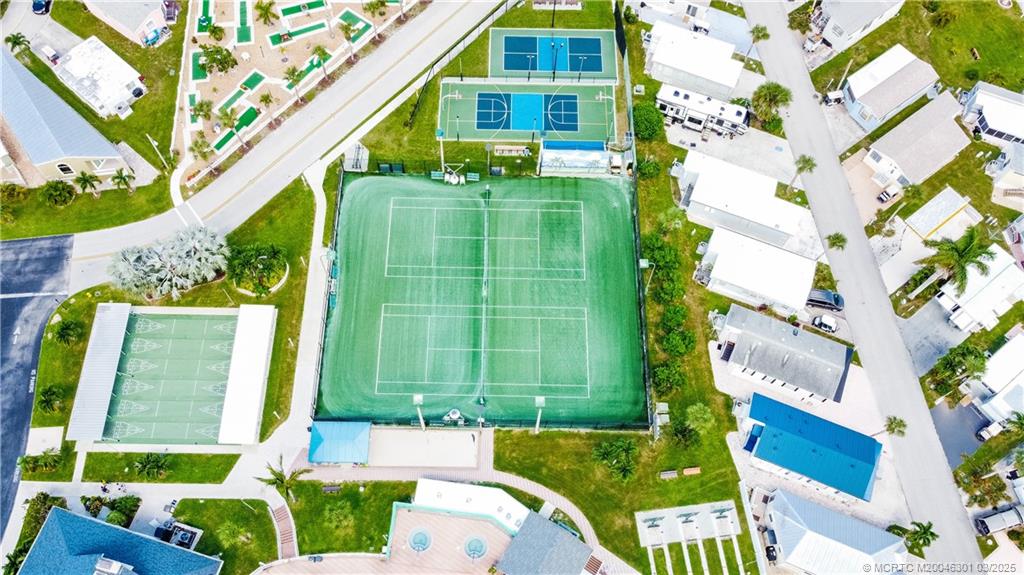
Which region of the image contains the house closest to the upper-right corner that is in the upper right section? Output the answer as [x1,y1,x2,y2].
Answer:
[966,81,1024,154]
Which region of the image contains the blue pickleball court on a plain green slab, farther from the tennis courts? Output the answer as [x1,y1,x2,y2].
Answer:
[488,27,618,82]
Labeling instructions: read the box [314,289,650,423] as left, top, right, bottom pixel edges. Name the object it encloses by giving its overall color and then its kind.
green tennis court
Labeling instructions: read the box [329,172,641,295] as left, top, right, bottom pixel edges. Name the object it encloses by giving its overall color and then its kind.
green tennis court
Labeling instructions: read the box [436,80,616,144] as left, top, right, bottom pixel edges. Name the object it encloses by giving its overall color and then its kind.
green basketball court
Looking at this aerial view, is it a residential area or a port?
residential area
